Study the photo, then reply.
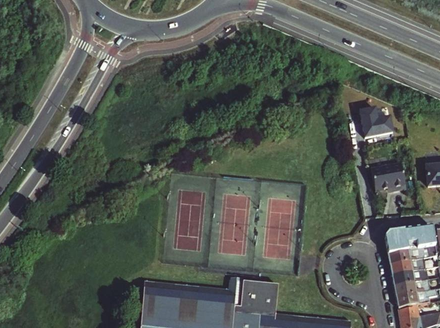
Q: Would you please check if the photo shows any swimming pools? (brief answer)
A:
No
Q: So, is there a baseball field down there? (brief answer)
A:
No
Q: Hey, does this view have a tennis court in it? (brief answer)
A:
Yes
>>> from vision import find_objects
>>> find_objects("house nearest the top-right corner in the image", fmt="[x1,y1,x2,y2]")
[359,106,393,140]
